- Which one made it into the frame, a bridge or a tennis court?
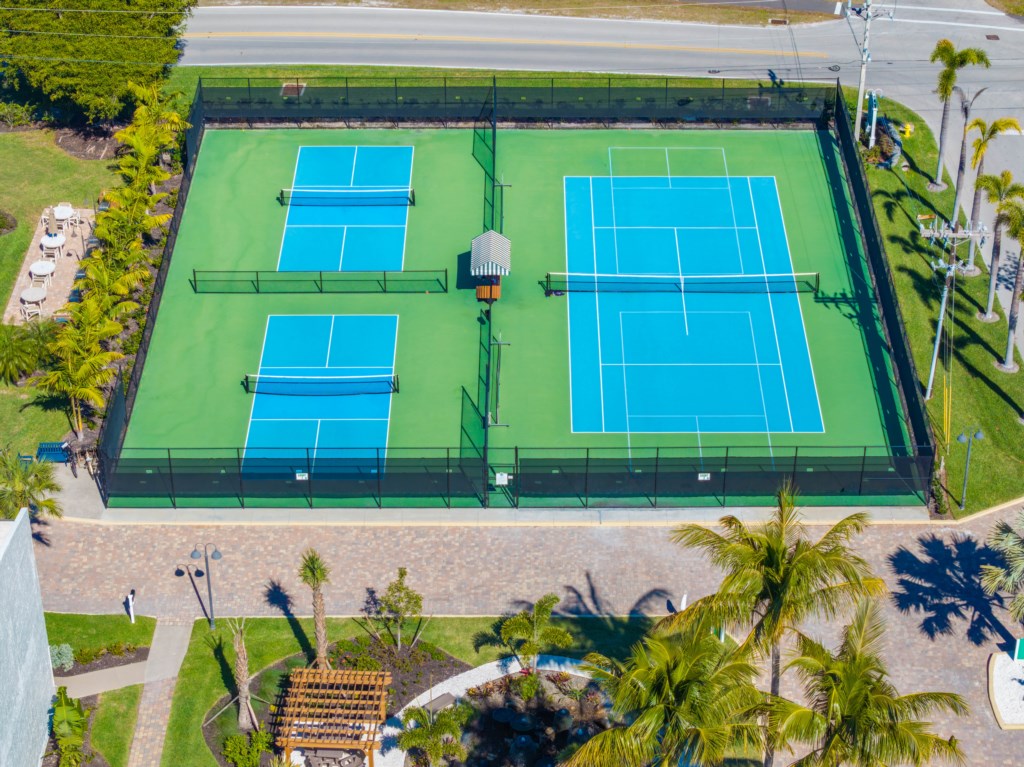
tennis court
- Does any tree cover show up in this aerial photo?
Yes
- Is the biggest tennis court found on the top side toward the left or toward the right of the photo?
right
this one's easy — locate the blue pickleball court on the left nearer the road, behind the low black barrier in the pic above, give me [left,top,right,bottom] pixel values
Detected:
[277,145,414,272]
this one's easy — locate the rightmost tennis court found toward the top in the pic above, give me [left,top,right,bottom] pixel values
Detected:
[564,147,825,457]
